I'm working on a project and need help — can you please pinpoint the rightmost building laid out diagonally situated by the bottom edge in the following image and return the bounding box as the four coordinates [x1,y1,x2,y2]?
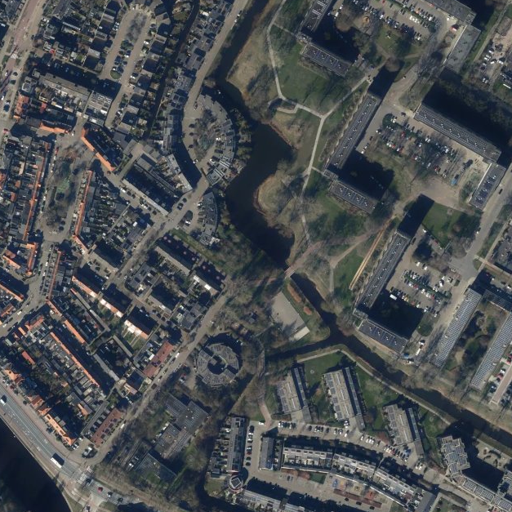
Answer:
[460,473,512,512]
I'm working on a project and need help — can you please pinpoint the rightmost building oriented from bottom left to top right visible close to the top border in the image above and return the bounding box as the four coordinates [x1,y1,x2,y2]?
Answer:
[443,24,482,74]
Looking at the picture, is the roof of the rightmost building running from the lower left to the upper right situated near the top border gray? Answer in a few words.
Yes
